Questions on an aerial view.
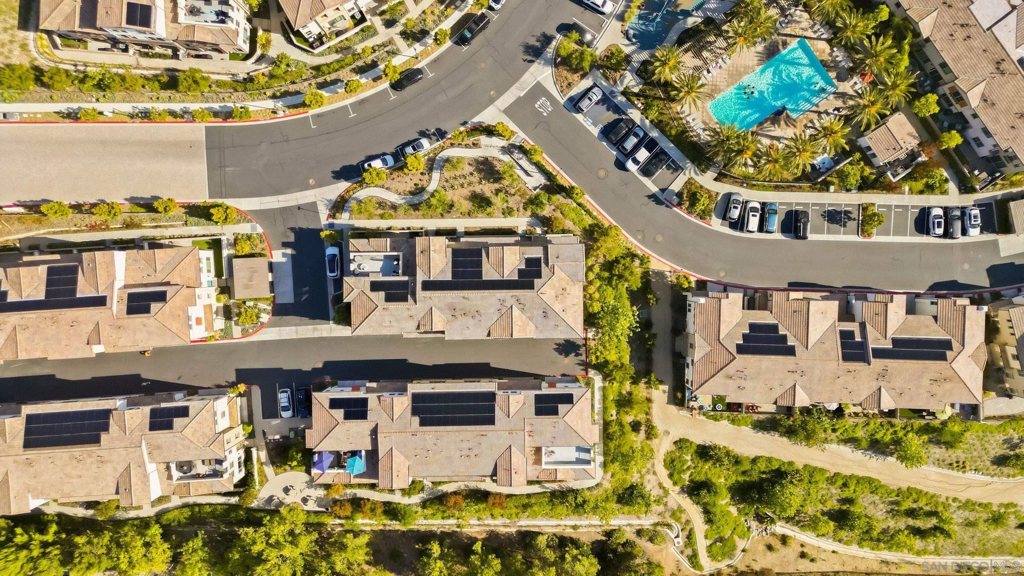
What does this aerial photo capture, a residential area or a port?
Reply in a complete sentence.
It's a residential area.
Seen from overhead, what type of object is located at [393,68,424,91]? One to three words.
car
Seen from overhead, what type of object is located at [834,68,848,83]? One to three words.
umbrella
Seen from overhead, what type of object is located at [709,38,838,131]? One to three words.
swimming pool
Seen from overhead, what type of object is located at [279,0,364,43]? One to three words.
house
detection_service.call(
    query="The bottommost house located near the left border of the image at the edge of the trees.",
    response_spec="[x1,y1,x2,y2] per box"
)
[0,393,247,516]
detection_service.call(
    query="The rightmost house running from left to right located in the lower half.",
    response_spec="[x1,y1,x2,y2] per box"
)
[679,291,990,410]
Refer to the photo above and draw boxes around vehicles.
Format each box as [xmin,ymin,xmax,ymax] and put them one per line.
[571,23,598,48]
[763,203,779,232]
[618,126,645,154]
[296,387,311,418]
[626,138,658,170]
[606,117,634,145]
[964,207,981,236]
[794,210,810,240]
[457,10,492,48]
[393,68,424,91]
[278,388,294,418]
[946,208,963,238]
[325,247,340,278]
[744,202,762,234]
[364,153,394,170]
[402,138,430,155]
[928,208,944,236]
[725,192,743,222]
[575,86,603,114]
[642,151,669,179]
